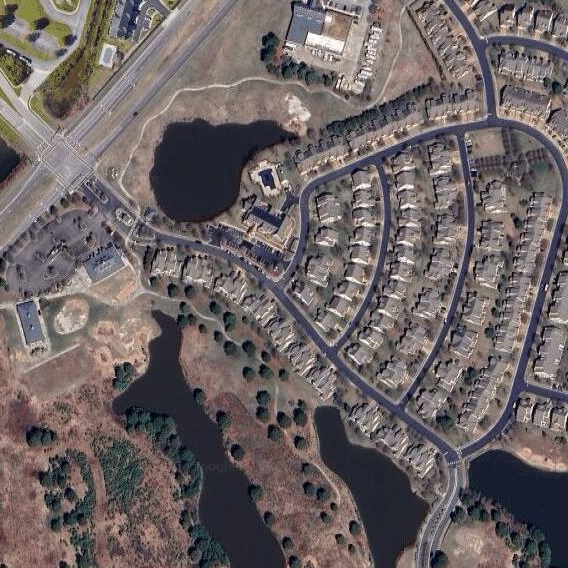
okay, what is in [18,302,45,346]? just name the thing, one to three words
building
